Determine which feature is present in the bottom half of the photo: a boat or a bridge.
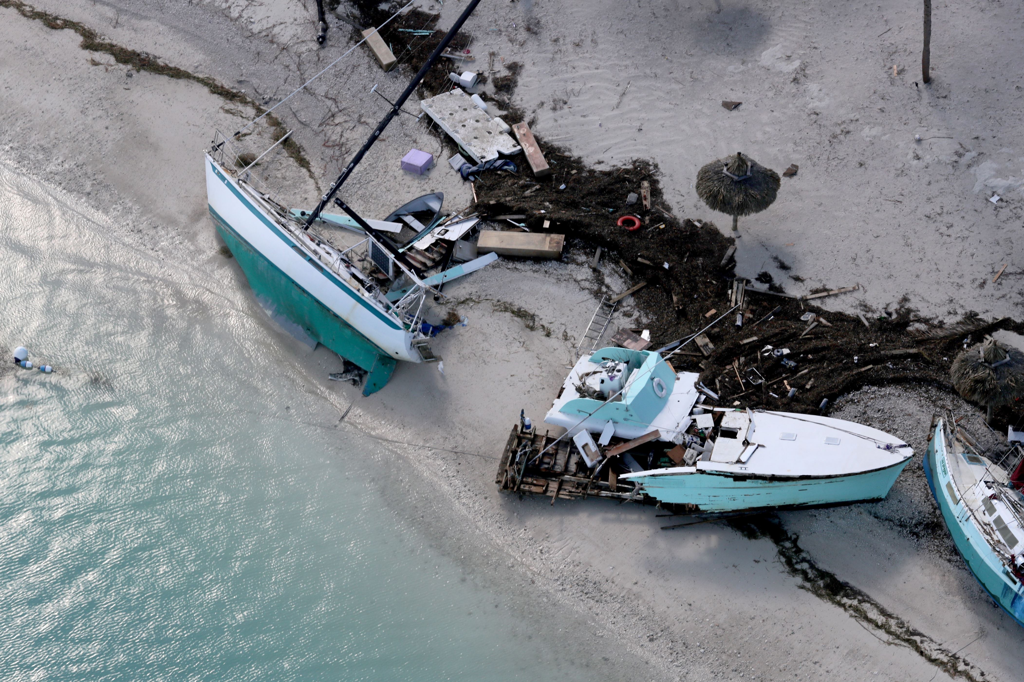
boat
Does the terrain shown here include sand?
Yes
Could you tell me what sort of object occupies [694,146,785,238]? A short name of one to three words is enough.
umbrella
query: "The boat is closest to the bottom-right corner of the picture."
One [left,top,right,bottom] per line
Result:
[931,412,1024,643]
